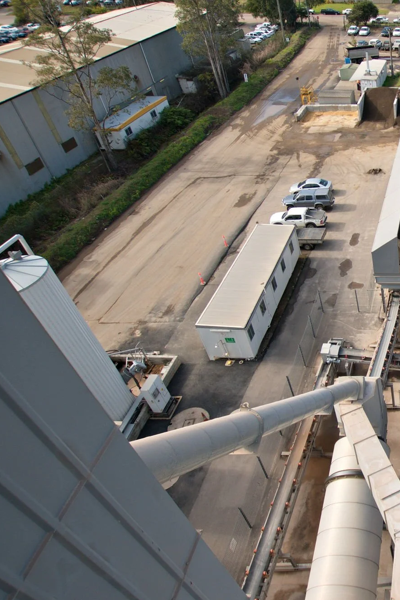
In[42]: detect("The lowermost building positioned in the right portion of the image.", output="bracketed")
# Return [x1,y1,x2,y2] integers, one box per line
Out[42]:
[192,223,301,358]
